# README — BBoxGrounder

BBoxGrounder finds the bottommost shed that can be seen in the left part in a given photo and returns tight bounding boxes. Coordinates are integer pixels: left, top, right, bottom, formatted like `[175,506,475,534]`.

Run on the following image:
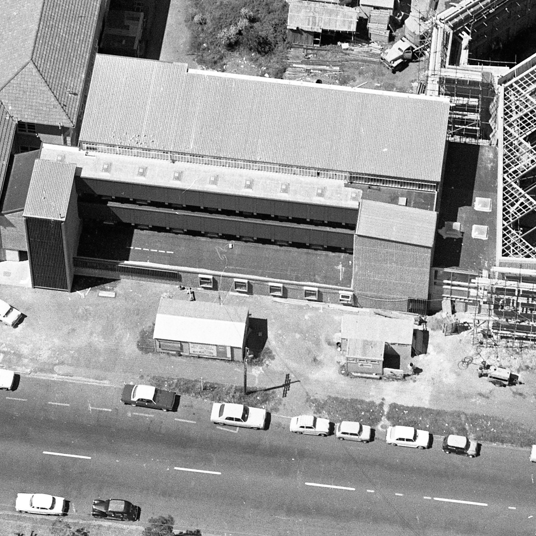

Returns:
[154,295,251,363]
